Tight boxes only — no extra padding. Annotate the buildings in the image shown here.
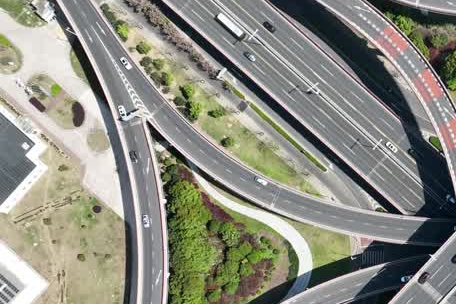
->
[0,238,49,304]
[0,101,49,219]
[34,0,64,23]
